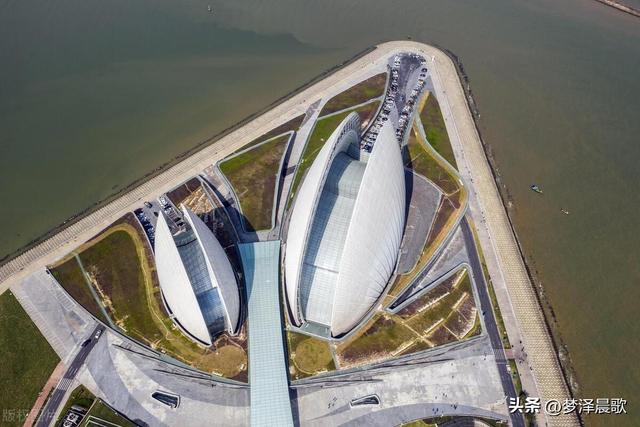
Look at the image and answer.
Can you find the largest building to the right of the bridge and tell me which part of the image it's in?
center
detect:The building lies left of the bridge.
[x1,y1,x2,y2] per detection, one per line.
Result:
[149,204,247,351]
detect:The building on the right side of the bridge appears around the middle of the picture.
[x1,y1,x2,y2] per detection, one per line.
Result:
[281,112,408,341]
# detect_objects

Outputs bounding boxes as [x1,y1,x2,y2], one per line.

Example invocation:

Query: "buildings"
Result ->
[149,204,247,351]
[281,112,408,341]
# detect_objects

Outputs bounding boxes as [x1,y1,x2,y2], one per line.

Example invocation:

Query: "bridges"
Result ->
[239,241,294,427]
